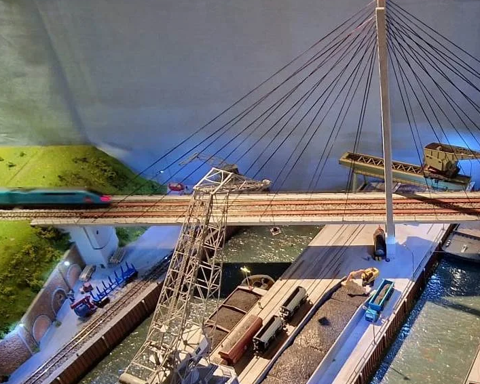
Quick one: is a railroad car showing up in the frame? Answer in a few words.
Yes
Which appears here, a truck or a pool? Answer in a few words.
truck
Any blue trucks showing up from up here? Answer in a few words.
Yes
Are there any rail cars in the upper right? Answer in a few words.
No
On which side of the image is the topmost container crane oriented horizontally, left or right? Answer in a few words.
right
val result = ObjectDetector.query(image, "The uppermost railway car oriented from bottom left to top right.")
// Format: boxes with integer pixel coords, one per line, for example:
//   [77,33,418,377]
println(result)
[281,286,308,320]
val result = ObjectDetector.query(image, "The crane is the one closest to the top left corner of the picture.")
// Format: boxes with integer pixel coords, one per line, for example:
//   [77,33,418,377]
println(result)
[184,143,237,193]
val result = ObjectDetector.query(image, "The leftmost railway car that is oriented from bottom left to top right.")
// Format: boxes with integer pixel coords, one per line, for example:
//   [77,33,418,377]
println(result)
[226,315,265,370]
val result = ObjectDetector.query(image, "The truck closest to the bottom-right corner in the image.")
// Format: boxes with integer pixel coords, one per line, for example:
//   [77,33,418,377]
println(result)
[365,285,392,320]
